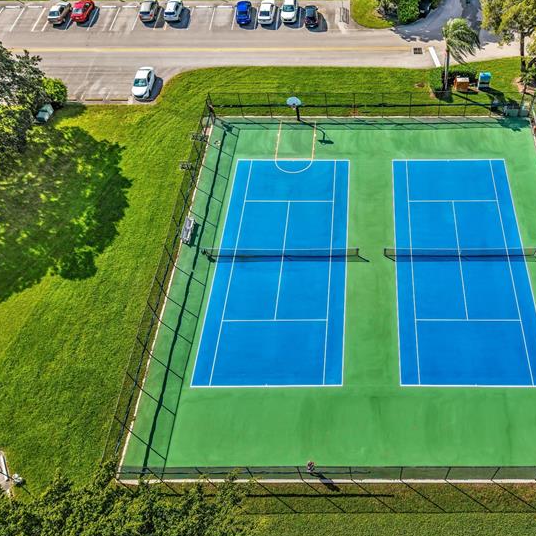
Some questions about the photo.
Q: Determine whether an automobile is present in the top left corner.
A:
Yes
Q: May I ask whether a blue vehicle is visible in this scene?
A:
Yes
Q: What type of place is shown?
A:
sports ground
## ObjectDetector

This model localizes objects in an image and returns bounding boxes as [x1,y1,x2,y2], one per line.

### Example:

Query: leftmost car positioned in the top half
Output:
[47,0,75,23]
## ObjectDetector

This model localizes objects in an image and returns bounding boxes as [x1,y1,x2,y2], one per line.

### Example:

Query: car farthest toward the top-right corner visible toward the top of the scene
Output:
[303,2,320,23]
